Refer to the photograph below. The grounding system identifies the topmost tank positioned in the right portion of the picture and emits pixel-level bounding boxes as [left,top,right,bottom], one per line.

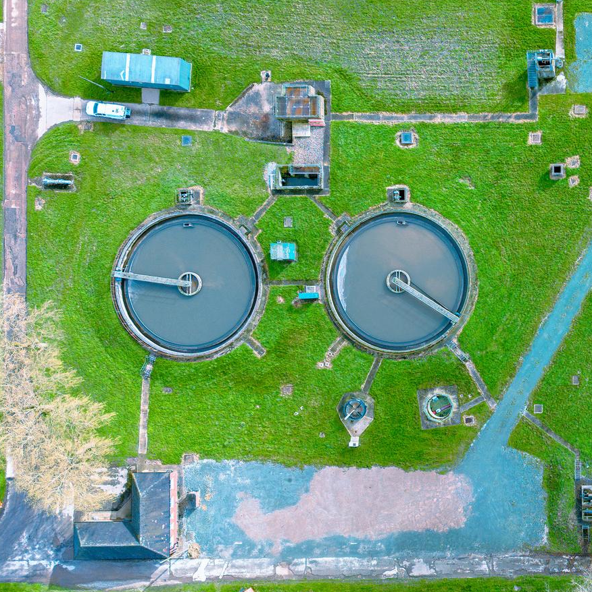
[325,208,470,353]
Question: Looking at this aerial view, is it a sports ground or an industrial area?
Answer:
industrial area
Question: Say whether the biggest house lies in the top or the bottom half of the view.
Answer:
bottom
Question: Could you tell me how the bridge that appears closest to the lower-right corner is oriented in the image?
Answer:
on a diagonal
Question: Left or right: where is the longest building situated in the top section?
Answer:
left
